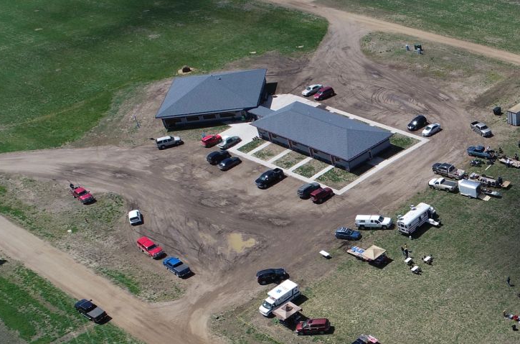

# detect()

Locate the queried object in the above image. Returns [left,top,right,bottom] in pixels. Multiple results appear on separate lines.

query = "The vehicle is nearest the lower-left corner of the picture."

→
[74,303,109,325]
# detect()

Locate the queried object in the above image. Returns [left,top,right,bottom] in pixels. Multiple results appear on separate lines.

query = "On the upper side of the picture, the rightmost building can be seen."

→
[250,102,397,171]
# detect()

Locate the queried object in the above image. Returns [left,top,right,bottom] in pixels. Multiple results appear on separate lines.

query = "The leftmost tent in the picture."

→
[271,301,304,328]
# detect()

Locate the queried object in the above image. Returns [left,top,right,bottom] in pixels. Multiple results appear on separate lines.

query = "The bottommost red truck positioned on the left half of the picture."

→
[133,234,165,258]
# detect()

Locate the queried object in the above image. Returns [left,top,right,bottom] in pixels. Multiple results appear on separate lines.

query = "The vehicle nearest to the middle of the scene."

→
[254,168,286,187]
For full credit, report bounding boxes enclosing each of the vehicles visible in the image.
[217,137,242,148]
[127,211,142,226]
[308,189,336,203]
[133,234,165,258]
[67,186,93,203]
[217,158,243,170]
[427,178,456,194]
[406,115,429,130]
[467,121,493,137]
[254,168,286,187]
[313,87,335,100]
[333,229,362,241]
[397,202,436,234]
[295,184,323,198]
[259,276,301,314]
[467,147,494,159]
[154,136,183,148]
[206,149,232,164]
[162,260,193,278]
[420,124,443,137]
[301,85,324,97]
[435,166,468,182]
[354,216,392,232]
[74,303,109,325]
[253,269,290,286]
[199,132,224,146]
[294,315,333,335]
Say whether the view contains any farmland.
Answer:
Yes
